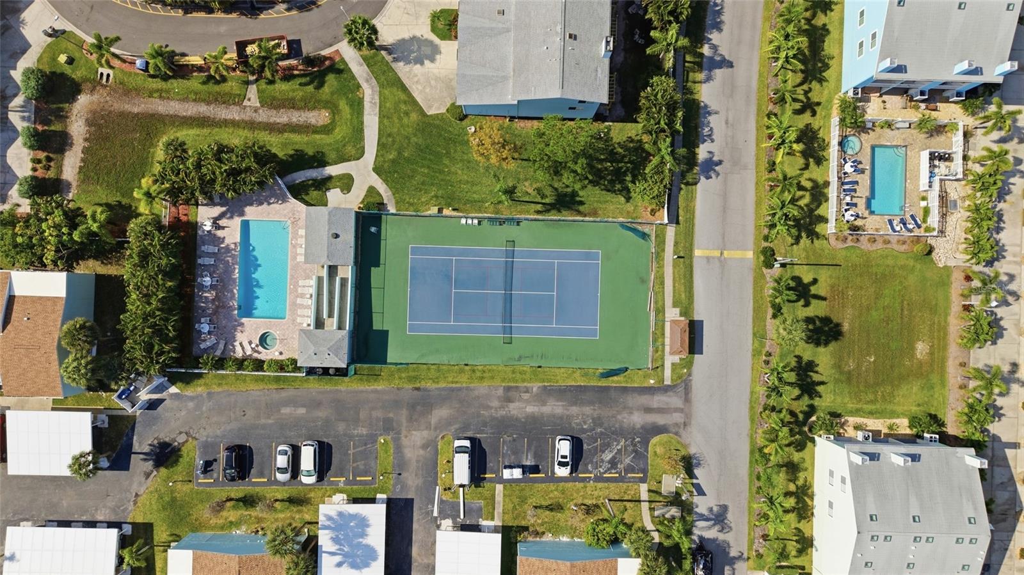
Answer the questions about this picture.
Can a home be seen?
Yes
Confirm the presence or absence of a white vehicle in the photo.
Yes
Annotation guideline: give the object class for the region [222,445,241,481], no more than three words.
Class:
car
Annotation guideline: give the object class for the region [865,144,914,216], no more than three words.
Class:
swimming pool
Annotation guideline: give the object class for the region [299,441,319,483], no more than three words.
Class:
car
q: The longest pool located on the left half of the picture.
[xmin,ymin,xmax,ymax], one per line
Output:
[236,219,292,321]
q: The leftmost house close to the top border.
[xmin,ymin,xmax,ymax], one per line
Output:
[457,0,619,119]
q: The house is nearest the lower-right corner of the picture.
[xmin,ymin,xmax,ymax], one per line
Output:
[813,428,992,575]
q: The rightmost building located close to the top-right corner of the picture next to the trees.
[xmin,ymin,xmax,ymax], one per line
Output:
[841,0,1021,107]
